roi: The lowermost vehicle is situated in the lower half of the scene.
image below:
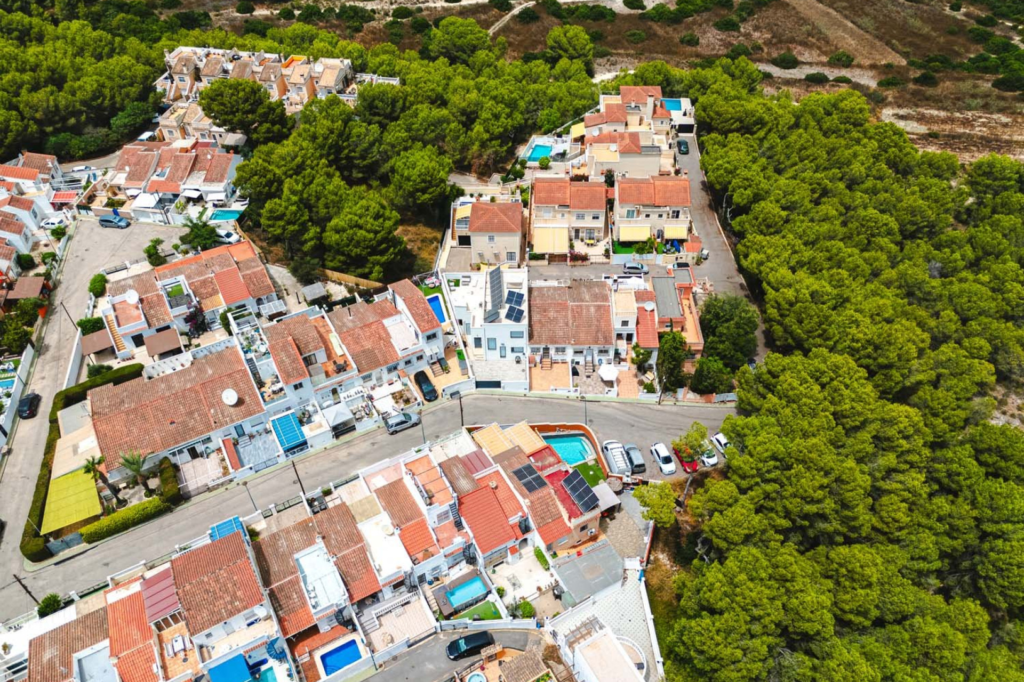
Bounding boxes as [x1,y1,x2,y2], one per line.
[447,625,497,660]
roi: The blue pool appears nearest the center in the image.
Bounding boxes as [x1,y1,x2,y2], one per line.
[426,293,450,326]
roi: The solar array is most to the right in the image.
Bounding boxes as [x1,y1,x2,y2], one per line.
[561,469,600,518]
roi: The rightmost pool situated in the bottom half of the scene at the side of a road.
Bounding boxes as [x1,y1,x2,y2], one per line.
[540,434,597,470]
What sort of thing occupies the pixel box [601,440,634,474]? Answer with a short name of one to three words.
van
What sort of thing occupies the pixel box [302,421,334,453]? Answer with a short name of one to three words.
building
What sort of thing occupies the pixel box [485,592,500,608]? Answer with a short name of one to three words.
umbrella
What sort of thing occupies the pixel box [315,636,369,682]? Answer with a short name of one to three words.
swimming pool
